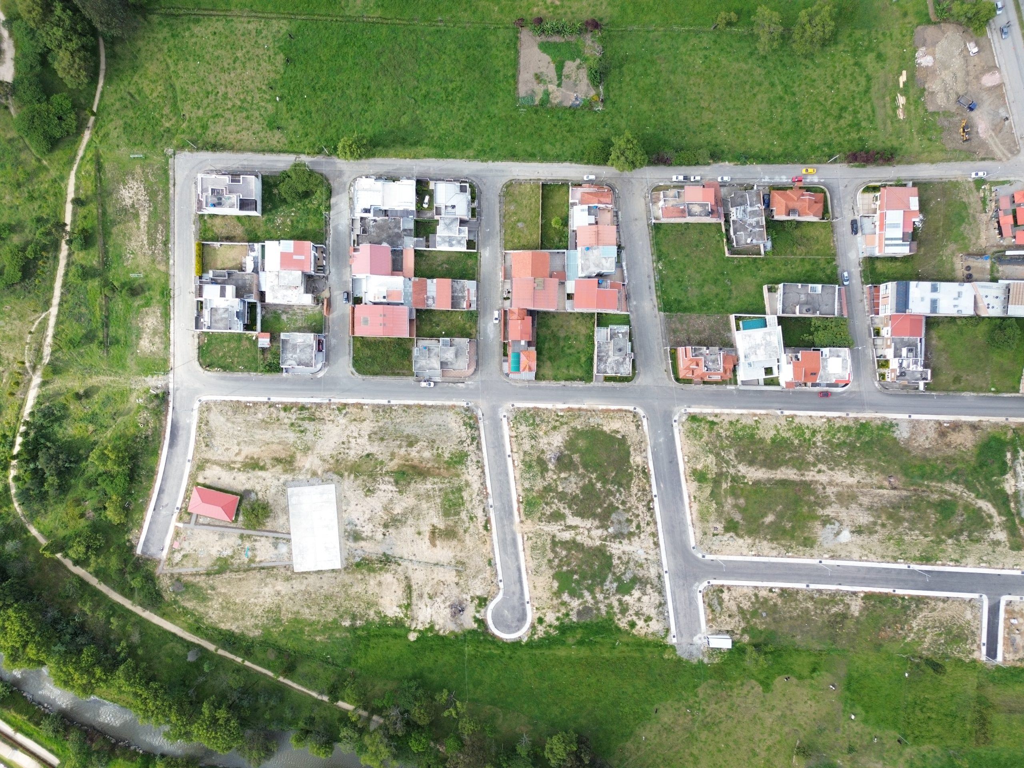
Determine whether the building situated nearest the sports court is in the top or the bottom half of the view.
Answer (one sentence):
The bottom half of the photo is where the building situated nearest the sports court is.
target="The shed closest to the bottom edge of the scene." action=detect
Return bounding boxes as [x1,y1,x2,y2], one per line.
[706,633,732,648]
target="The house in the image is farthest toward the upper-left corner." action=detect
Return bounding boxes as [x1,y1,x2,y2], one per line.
[195,174,262,216]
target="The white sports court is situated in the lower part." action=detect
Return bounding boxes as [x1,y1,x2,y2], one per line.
[288,485,341,572]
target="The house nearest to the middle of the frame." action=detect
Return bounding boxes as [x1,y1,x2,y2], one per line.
[503,341,536,380]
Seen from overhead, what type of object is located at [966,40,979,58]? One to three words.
vehicle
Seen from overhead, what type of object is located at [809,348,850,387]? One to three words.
house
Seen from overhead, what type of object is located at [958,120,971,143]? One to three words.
vehicle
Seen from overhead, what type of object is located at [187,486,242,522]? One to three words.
building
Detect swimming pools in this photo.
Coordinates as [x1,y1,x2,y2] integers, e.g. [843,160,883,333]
[741,317,768,331]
